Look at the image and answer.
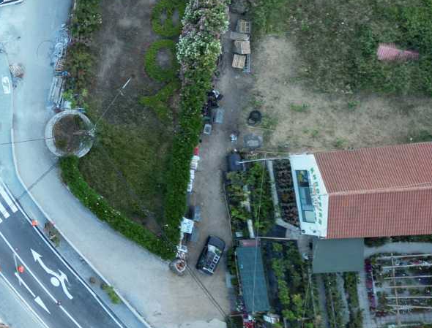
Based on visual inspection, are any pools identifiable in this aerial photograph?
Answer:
No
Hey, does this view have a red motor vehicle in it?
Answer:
No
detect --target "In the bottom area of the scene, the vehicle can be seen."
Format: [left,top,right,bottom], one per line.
[197,231,225,279]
